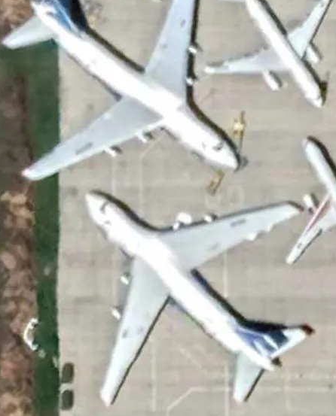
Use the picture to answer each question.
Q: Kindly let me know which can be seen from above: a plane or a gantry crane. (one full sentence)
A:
This aerial view contains a plane.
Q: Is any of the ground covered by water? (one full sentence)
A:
No, there's no water in this view.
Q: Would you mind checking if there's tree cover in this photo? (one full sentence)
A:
No, the picture contains no tree cover.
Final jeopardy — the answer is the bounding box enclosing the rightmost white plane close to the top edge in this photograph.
[195,0,335,107]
